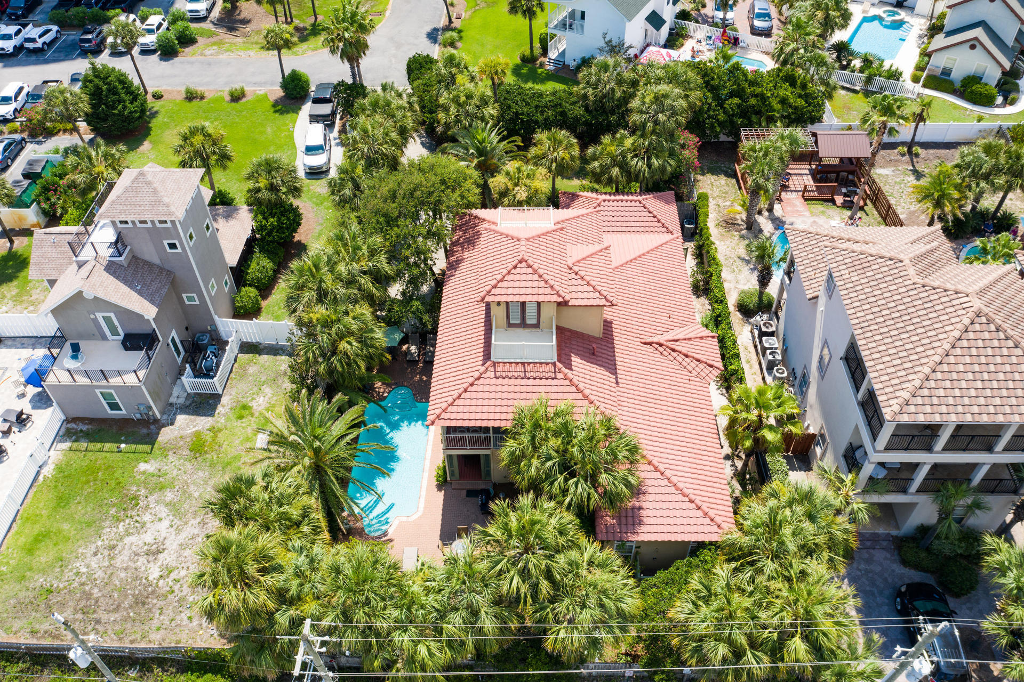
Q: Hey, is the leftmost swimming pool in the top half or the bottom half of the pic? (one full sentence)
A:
You can find the leftmost swimming pool in the bottom half.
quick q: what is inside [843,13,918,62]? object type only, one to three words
swimming pool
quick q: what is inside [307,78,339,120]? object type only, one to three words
truck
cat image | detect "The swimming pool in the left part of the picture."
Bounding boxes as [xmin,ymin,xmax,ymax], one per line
[341,381,433,541]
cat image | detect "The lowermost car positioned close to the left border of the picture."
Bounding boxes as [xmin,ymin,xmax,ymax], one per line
[0,128,31,166]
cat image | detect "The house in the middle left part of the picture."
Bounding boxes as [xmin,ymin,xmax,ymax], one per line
[27,165,260,422]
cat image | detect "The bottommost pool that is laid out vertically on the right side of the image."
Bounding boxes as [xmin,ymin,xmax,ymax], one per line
[770,229,799,291]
